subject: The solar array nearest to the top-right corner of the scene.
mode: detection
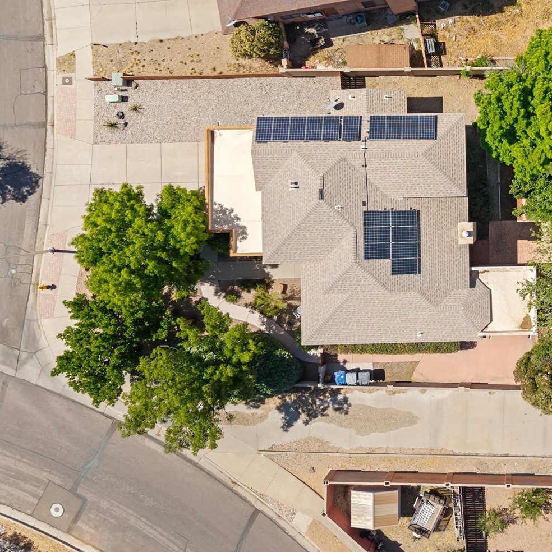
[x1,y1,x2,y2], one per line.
[369,116,435,139]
